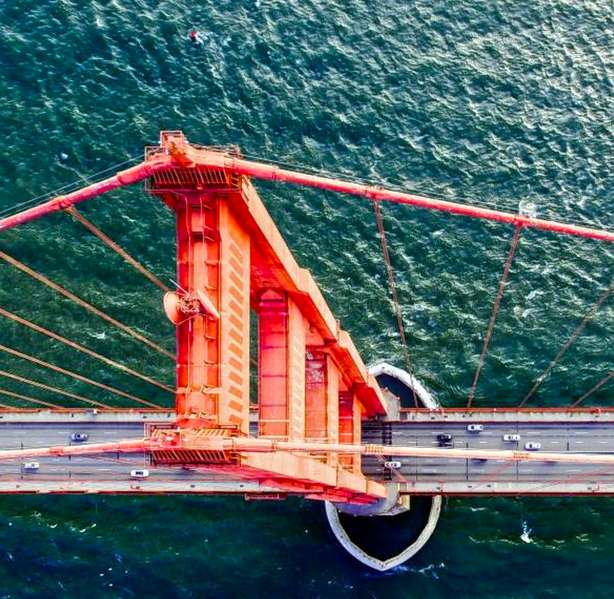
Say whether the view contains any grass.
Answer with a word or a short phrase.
No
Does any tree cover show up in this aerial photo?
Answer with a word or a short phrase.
No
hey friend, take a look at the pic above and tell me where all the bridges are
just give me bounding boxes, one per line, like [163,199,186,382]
[0,127,614,517]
